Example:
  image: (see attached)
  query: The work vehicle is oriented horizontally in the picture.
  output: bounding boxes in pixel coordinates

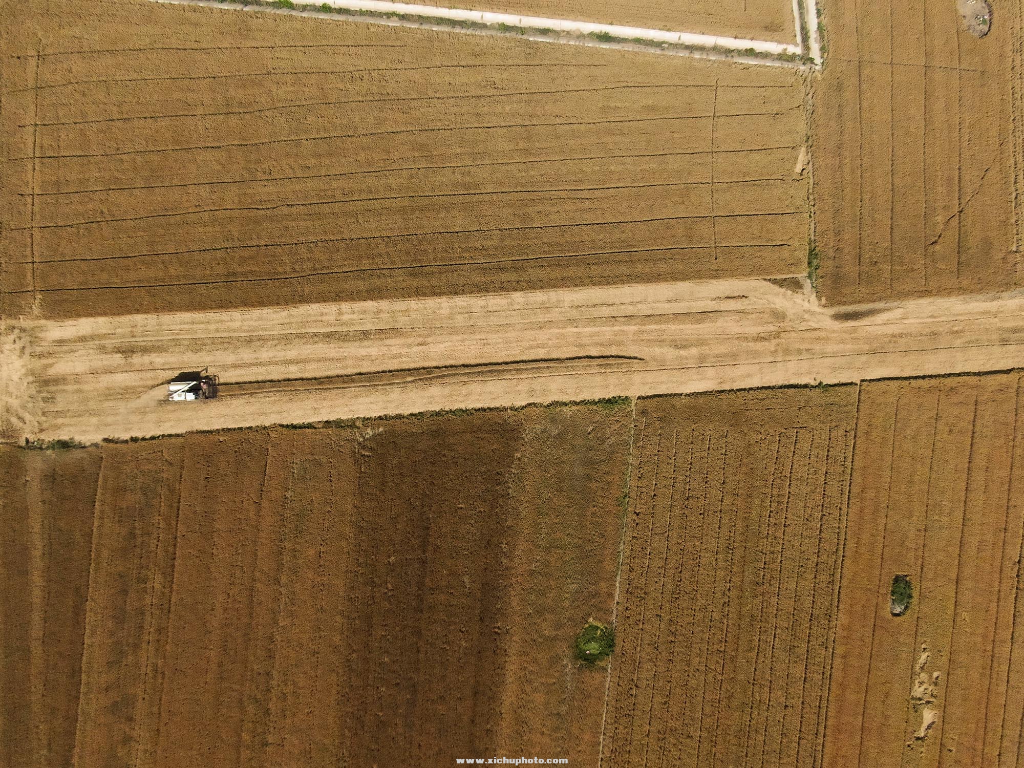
[169,378,219,403]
